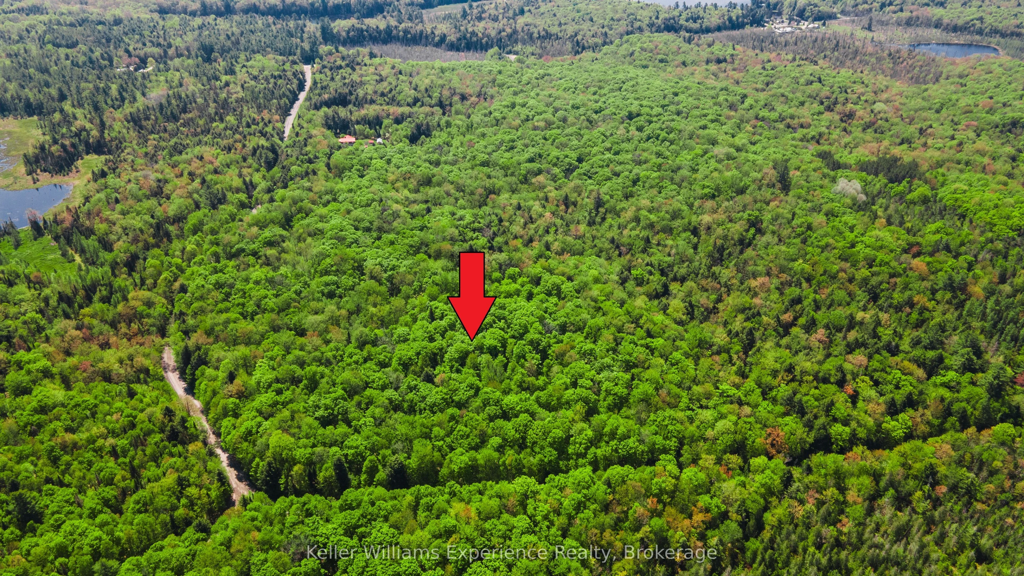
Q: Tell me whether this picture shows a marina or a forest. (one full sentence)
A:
What you see here is a forest.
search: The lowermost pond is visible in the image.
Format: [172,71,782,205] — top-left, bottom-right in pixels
[0,184,73,234]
